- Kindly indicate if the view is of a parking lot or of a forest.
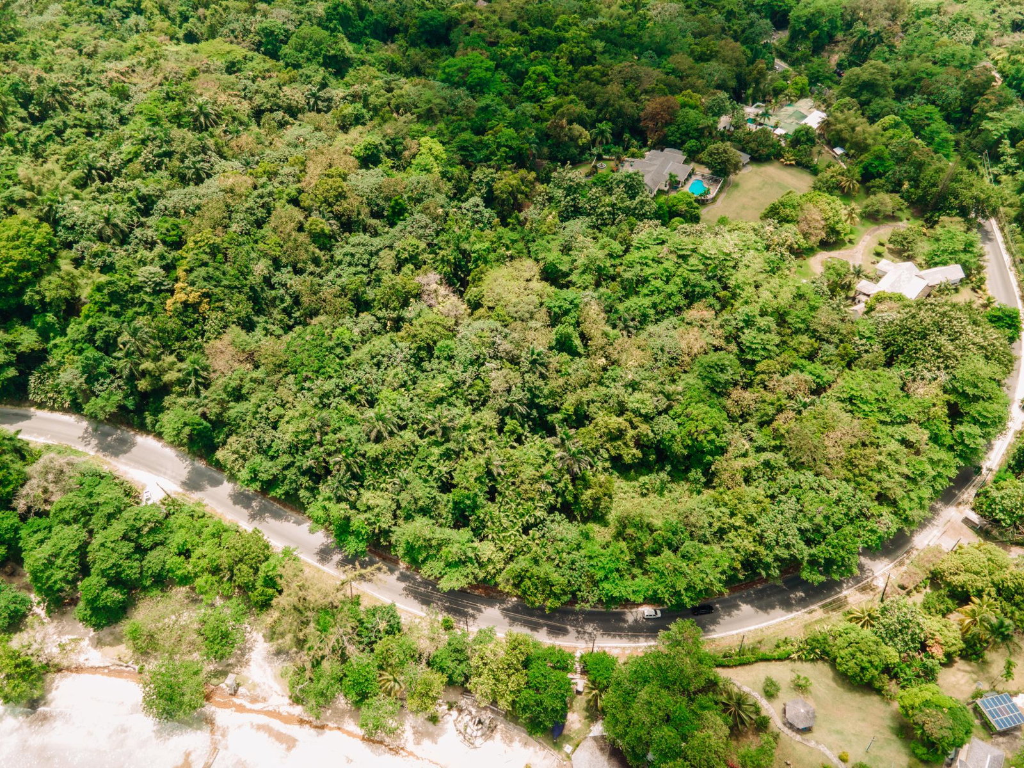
forest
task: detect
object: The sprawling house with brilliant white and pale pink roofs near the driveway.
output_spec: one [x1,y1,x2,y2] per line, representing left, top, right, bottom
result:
[856,259,965,300]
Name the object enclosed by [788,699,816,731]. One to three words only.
gazebo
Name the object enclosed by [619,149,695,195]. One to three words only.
house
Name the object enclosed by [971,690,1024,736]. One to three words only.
house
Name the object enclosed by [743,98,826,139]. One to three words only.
building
